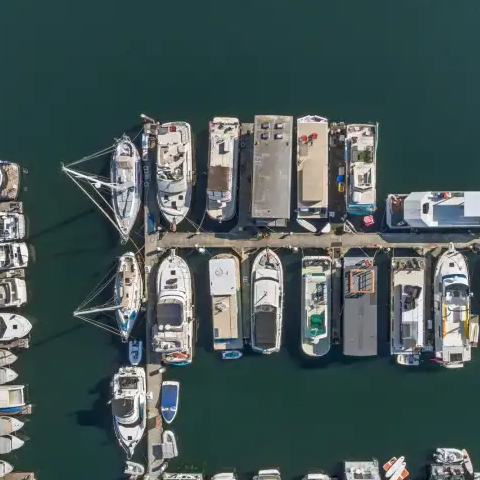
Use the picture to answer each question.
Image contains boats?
Yes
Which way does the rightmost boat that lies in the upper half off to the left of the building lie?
up and down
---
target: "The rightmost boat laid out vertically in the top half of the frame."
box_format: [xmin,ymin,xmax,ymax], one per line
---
[345,122,380,233]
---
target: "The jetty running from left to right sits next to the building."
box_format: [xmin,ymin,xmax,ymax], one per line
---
[157,233,480,247]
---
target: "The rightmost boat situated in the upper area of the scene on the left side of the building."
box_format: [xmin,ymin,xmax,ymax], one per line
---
[199,117,242,233]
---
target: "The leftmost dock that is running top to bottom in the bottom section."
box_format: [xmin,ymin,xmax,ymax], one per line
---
[145,232,163,480]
